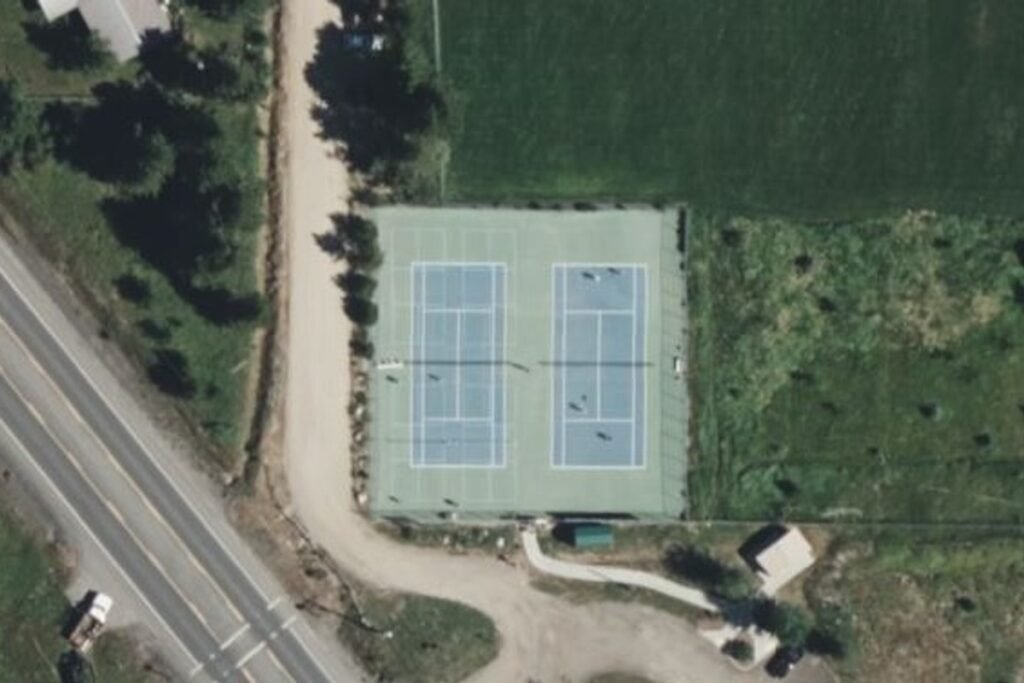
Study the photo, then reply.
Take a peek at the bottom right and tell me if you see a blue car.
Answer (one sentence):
No, looking at the bottom right, there is no blue car.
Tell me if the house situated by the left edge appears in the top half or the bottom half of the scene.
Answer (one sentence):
The top half of the photo is where the house situated by the left edge is.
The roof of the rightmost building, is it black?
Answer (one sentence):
No, the roof of the rightmost building is white.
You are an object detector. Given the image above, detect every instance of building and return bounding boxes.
[755,529,817,591]
[39,0,170,67]
[575,526,614,554]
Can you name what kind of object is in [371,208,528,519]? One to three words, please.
tennis court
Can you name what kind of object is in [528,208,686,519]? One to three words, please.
tennis court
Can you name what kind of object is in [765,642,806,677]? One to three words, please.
car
